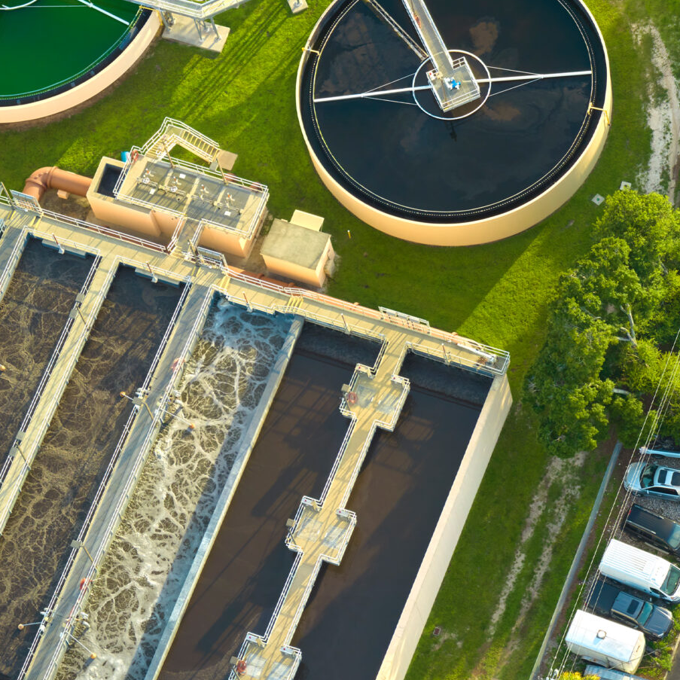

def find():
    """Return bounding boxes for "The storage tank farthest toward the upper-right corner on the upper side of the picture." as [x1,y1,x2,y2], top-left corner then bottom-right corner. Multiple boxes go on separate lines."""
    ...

[295,0,613,245]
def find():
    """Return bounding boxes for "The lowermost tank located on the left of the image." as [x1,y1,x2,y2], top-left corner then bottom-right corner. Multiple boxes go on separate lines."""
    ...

[87,163,162,237]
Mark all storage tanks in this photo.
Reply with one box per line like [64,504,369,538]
[295,0,613,245]
[87,163,162,237]
[0,0,167,125]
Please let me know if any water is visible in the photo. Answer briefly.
Yes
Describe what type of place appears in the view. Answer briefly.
industrial area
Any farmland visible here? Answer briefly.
No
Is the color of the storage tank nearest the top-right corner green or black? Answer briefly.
black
